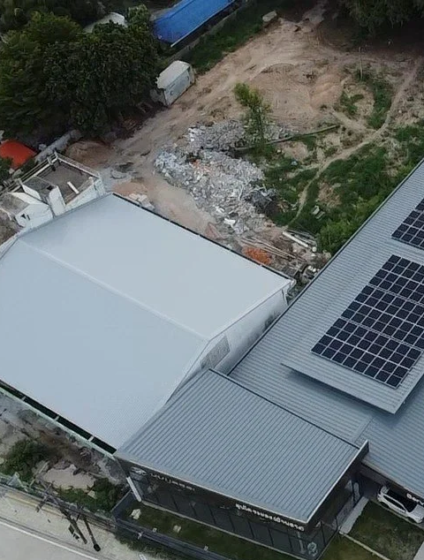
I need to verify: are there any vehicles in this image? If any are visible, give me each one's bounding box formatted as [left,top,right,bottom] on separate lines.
[379,488,424,526]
